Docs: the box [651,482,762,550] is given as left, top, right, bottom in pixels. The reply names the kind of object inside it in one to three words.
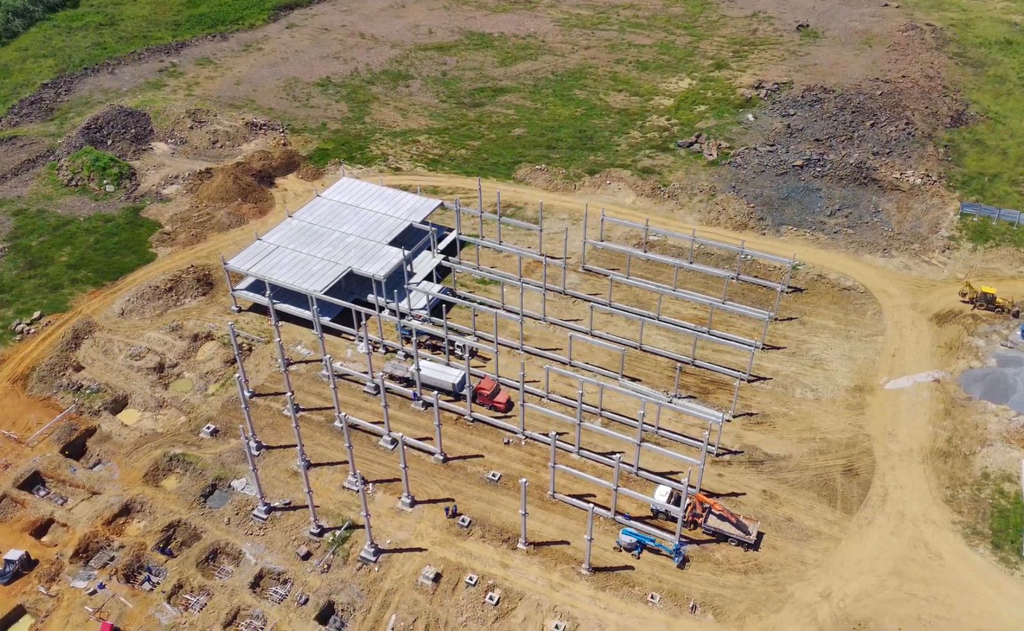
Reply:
truck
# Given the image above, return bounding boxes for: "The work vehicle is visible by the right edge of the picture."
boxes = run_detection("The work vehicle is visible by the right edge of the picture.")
[959,281,1024,319]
